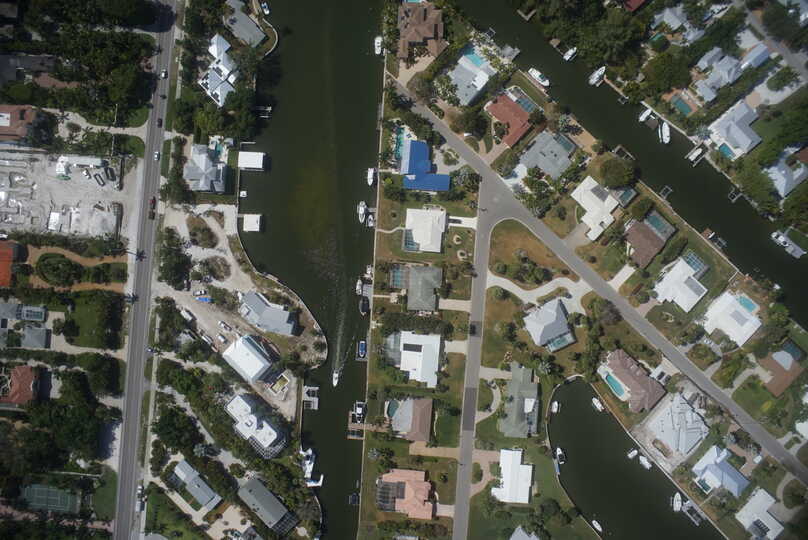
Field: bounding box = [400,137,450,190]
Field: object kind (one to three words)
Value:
house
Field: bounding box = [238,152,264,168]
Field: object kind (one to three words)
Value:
building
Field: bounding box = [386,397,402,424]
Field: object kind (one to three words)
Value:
swimming pool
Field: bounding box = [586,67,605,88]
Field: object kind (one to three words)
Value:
boat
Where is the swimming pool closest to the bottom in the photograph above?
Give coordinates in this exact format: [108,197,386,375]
[694,476,721,495]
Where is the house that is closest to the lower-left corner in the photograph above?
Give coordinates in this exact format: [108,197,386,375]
[0,366,38,407]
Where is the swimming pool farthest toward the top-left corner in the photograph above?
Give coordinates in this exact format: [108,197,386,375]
[208,136,229,164]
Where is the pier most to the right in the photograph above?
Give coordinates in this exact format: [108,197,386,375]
[770,227,806,258]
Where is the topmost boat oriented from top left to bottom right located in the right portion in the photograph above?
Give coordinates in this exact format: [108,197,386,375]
[529,67,548,84]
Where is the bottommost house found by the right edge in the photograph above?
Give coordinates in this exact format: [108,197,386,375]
[735,489,784,540]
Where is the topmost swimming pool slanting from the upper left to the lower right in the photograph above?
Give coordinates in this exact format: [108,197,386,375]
[460,45,497,77]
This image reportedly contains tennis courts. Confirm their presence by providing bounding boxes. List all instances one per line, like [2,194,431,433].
[17,482,77,518]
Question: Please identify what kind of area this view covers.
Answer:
residential area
